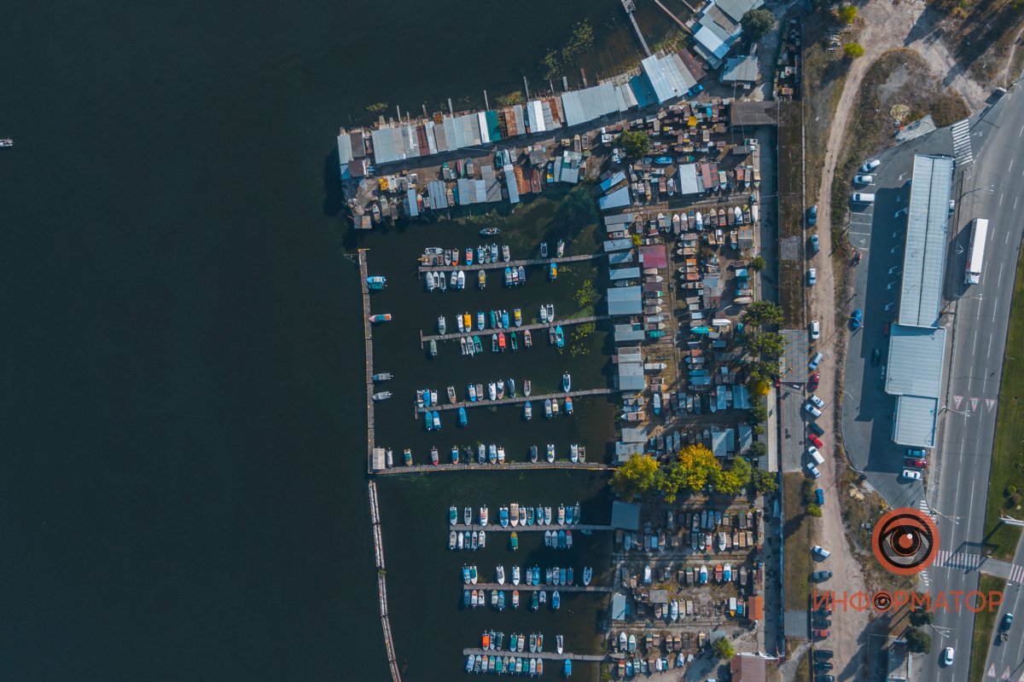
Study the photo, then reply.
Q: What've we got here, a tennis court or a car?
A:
car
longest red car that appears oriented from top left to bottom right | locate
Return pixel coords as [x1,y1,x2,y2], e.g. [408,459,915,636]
[807,434,824,449]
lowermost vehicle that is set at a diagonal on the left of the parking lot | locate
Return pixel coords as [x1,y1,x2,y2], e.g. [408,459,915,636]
[814,544,830,559]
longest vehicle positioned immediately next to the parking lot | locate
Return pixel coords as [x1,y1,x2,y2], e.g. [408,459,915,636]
[964,219,989,284]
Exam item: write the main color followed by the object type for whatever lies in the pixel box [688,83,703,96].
blue vehicle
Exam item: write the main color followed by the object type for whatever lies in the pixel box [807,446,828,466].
white vehicle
